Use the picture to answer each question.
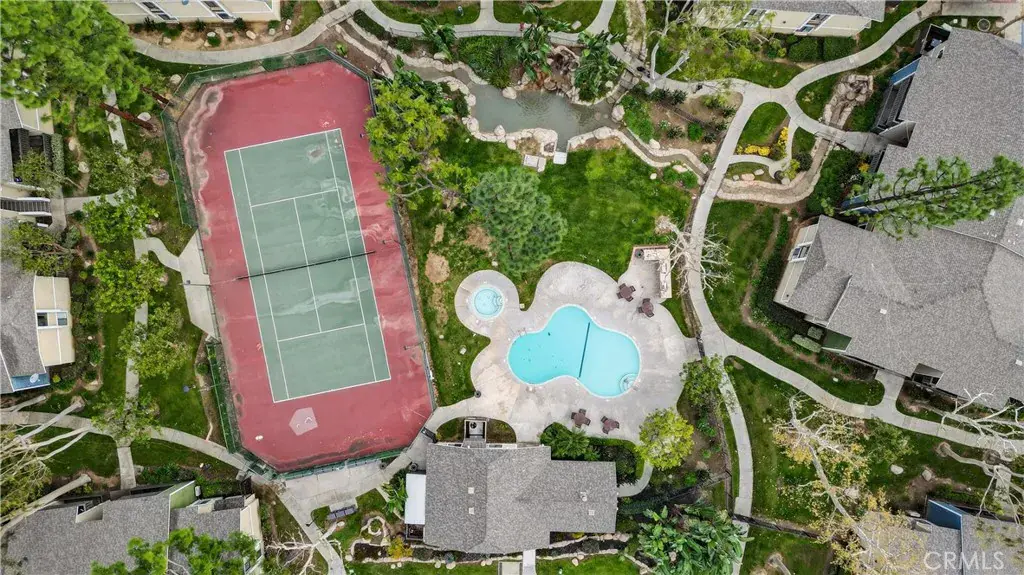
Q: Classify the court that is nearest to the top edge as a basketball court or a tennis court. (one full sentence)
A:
The court that is nearest to the top edge in the image is a tennis court.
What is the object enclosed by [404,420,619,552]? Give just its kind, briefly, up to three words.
building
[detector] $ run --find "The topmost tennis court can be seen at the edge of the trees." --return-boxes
[177,60,431,472]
